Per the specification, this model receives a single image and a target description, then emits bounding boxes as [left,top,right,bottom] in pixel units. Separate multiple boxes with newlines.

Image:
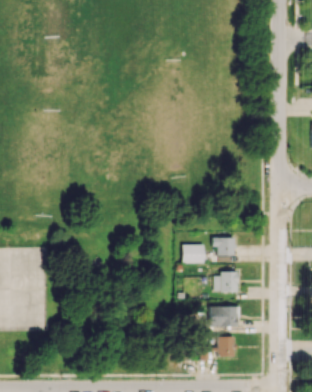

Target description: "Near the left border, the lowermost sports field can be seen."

[12,110,73,217]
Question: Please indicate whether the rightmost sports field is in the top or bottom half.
top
